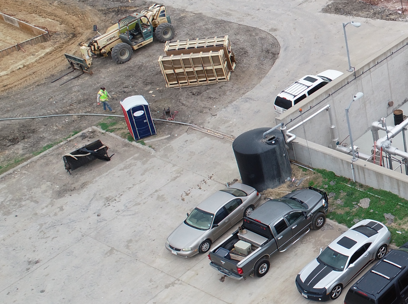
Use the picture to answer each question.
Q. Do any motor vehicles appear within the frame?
Yes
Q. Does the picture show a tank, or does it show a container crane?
tank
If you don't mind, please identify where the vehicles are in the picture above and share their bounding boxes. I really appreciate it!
[62,1,172,82]
[206,183,332,283]
[270,72,341,116]
[346,242,408,304]
[288,216,398,304]
[157,181,264,264]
